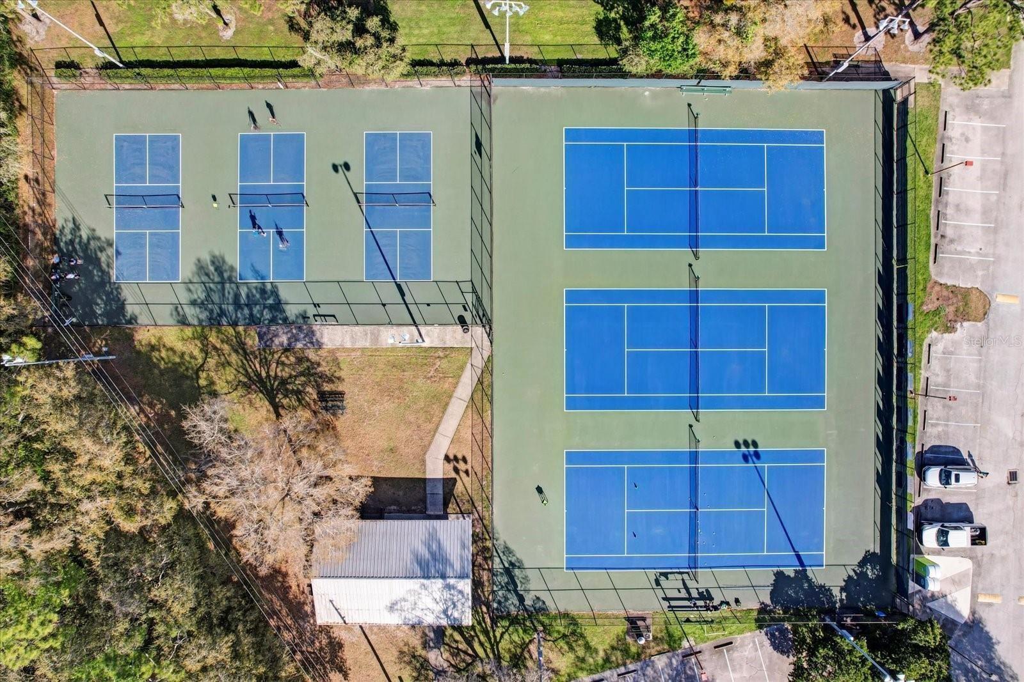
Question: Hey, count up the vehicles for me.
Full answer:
My tally gives 2 vehicles in this view.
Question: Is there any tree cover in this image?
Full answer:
Yes, some tree cover is visible.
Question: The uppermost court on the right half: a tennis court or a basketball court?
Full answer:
From above, the uppermost court on the right half can be identified as a tennis court.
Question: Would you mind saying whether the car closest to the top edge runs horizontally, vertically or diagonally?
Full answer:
In this picture, the car closest to the top edge is oriented horizontally.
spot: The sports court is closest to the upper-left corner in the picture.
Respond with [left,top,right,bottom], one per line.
[114,133,181,282]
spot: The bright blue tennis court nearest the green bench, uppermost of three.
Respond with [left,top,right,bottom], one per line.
[564,127,826,251]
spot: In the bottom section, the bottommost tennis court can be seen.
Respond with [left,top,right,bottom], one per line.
[564,448,827,571]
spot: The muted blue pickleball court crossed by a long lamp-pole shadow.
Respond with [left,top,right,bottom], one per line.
[364,131,432,281]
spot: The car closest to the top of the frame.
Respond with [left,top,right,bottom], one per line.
[923,463,984,490]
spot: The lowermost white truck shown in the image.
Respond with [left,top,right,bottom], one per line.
[924,523,995,553]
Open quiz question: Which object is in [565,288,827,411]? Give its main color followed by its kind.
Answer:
blue tennis court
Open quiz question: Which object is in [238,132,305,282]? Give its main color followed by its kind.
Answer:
blue sports court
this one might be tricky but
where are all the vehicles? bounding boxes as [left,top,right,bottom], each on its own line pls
[923,463,984,490]
[924,523,995,553]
